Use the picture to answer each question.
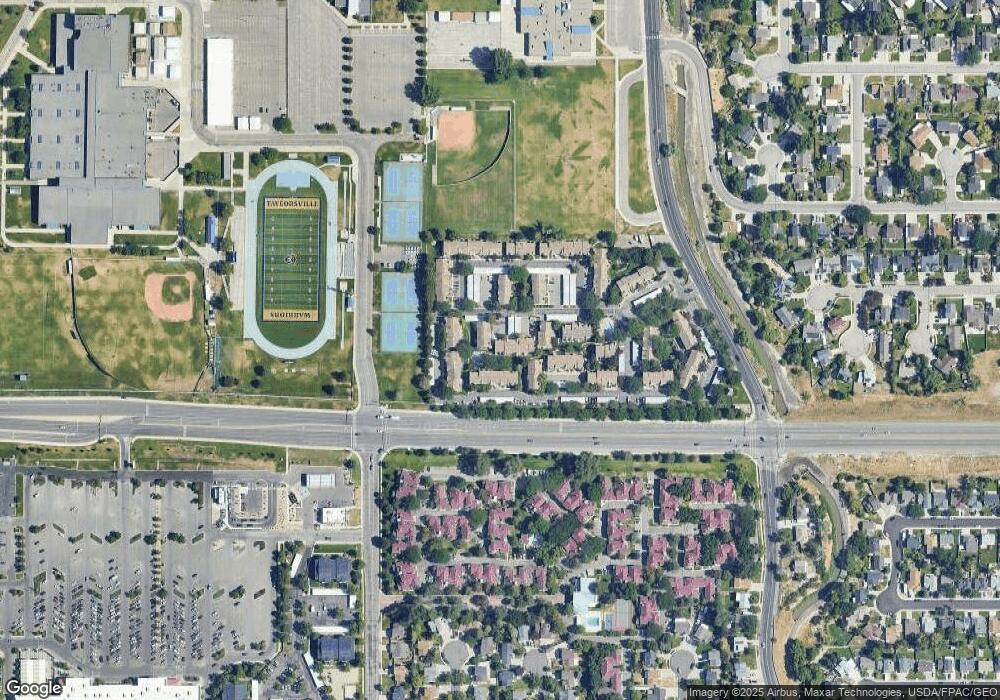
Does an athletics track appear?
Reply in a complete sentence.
Yes, the frame does contain an athletics track.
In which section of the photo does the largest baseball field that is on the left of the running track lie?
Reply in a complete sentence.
The largest baseball field that is on the left of the running track is located in the left region of the scene.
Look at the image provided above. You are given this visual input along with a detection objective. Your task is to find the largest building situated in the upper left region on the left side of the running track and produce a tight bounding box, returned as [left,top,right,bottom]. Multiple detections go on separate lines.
[29,14,179,243]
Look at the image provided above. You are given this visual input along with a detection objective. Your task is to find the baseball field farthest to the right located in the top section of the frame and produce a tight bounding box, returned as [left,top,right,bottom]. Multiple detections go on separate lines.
[437,102,509,185]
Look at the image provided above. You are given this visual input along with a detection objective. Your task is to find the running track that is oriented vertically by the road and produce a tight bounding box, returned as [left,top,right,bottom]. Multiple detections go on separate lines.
[244,160,338,359]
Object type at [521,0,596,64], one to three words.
building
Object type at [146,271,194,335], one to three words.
baseball field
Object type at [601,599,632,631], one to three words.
sports court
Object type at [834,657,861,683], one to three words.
house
